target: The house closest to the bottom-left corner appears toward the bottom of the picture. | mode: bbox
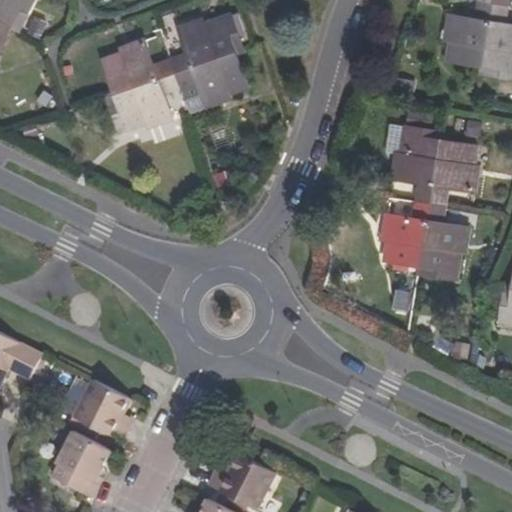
[51,430,111,498]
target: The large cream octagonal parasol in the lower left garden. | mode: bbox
[38,444,54,460]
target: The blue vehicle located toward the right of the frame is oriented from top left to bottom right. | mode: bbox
[343,354,366,374]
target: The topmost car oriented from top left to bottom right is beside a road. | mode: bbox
[280,307,302,326]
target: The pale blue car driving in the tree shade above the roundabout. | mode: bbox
[290,182,306,204]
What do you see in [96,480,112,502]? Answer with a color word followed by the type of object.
red car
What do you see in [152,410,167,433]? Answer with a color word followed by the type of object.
white car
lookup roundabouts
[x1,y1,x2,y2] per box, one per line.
[156,231,301,383]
